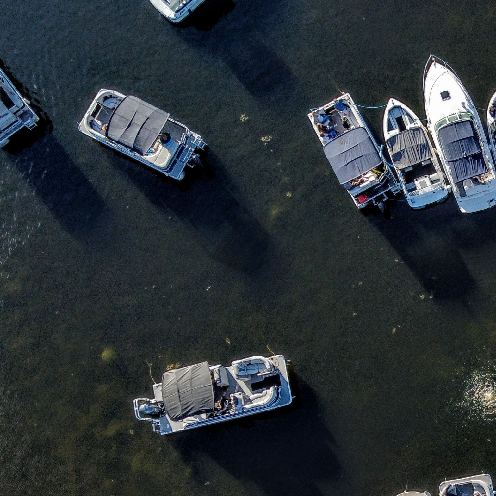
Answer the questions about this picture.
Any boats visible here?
Yes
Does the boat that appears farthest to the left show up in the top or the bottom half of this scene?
top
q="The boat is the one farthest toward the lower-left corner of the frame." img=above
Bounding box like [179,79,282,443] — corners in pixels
[133,351,297,441]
